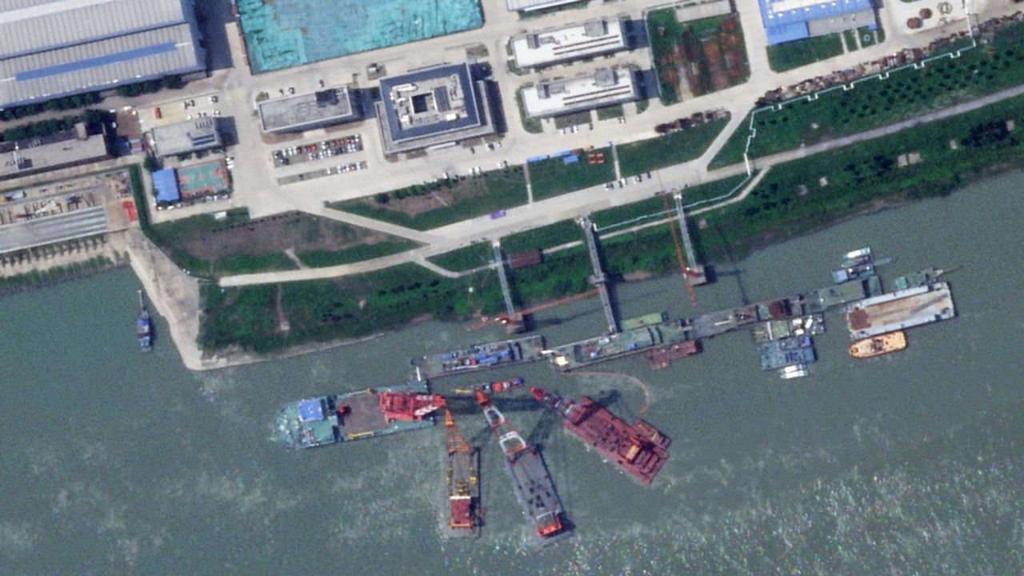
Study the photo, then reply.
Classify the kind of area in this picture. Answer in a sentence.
This looks like a port.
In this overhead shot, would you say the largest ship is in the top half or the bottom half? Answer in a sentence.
You can find the largest ship in the bottom half.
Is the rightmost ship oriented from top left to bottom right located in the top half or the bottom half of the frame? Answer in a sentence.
The rightmost ship oriented from top left to bottom right is in the bottom half of the image.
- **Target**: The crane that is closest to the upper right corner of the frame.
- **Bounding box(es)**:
[655,168,698,305]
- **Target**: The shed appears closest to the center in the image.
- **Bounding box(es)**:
[506,249,543,269]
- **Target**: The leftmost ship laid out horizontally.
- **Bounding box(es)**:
[272,381,465,447]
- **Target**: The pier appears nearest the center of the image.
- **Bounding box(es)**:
[493,241,528,334]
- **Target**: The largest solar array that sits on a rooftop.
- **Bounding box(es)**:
[434,87,451,113]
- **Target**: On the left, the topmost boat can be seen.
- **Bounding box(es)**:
[138,290,152,352]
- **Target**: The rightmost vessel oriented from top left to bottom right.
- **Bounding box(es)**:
[532,387,669,482]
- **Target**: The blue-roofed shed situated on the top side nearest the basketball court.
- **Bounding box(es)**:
[153,169,182,203]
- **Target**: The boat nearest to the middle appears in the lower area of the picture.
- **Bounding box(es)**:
[455,378,524,395]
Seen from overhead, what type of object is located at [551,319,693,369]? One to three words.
pier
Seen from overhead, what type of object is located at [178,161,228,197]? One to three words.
basketball court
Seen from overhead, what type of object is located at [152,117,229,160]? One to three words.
building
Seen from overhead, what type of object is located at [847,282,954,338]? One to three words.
ship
